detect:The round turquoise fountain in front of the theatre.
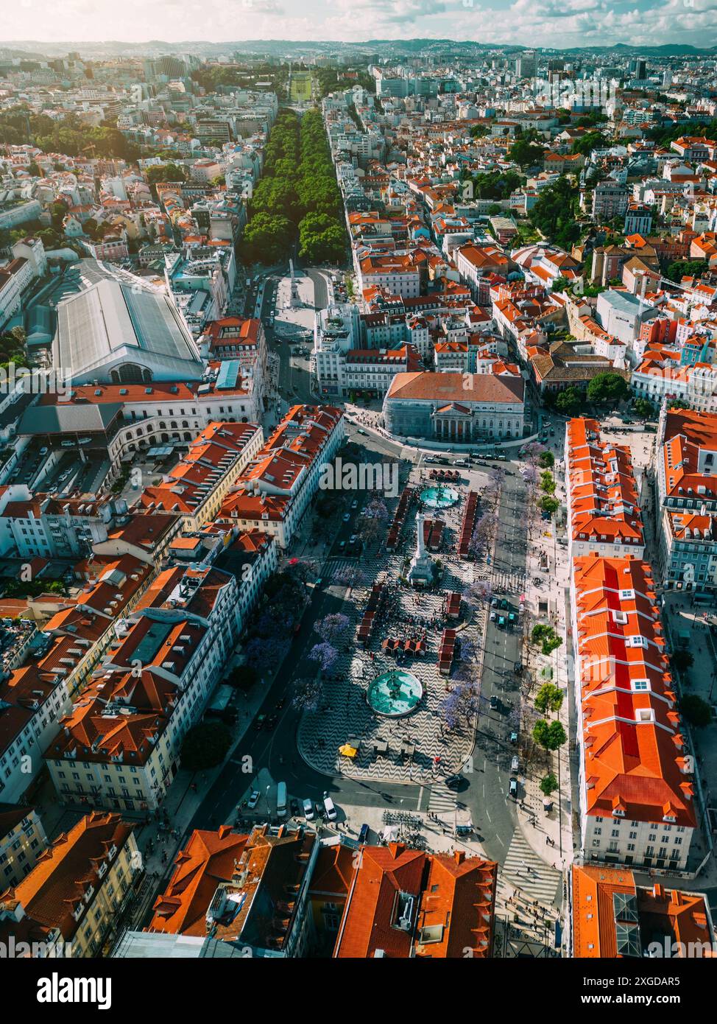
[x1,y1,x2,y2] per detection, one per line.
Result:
[419,481,458,508]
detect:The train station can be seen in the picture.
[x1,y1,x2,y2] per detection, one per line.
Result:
[60,268,201,387]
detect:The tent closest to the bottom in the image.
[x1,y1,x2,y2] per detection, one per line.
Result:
[377,821,401,847]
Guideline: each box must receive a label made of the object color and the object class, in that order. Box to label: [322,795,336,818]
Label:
white vehicle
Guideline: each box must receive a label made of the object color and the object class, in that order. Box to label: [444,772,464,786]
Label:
black car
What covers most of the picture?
buildings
